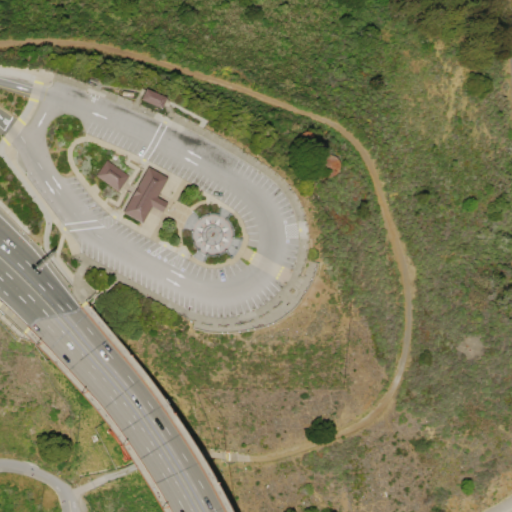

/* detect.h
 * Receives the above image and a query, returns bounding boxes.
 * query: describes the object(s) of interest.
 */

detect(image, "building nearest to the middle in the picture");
[124,166,168,220]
